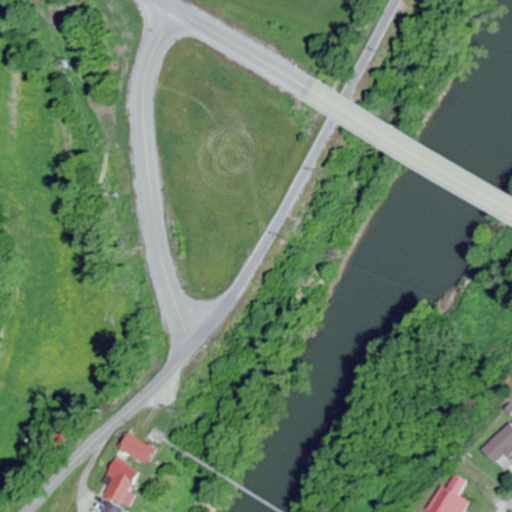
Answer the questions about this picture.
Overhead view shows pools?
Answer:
No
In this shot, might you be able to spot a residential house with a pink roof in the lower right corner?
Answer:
Yes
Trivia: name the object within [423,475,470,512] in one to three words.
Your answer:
house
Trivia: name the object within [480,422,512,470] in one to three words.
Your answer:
house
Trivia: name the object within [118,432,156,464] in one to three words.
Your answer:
shed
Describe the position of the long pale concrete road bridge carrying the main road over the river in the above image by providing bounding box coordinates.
[304,79,512,226]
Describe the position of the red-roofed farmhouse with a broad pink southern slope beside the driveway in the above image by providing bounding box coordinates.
[103,457,141,508]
